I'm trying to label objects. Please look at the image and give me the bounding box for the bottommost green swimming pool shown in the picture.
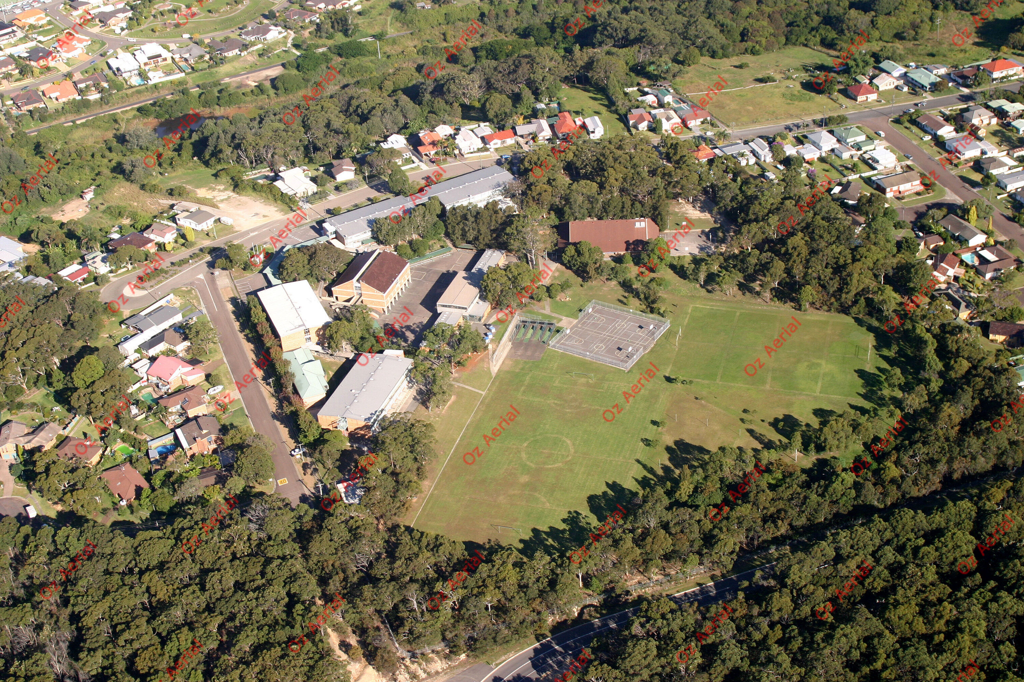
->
[111,442,140,457]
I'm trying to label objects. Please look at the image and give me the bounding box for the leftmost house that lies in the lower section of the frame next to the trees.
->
[0,420,63,453]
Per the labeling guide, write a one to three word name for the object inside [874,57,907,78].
shed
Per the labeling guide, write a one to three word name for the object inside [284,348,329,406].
building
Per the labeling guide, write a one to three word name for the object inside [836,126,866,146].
house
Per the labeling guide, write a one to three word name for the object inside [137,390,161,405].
swimming pool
